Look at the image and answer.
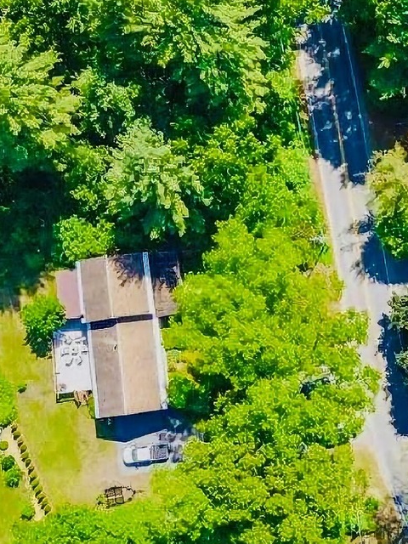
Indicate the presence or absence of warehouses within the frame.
No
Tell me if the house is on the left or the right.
left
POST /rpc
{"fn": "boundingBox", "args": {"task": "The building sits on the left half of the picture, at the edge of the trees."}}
[55,250,188,418]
